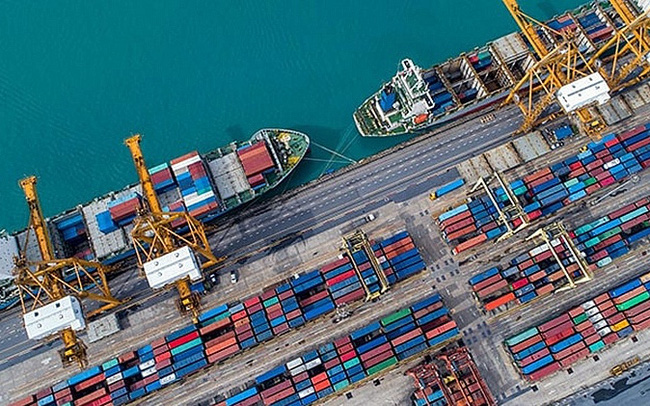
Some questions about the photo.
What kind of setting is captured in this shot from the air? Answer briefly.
port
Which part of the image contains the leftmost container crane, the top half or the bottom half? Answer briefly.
bottom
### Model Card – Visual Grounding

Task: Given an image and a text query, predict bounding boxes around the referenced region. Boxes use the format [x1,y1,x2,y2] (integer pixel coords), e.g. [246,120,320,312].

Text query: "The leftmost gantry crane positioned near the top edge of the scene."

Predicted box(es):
[501,0,613,139]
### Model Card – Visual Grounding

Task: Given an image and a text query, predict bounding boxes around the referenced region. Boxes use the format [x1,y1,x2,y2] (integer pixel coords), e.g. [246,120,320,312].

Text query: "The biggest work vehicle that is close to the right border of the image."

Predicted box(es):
[606,355,646,377]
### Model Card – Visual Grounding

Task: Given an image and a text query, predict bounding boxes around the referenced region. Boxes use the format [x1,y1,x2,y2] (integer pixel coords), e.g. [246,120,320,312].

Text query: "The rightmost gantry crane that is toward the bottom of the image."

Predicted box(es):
[519,220,590,294]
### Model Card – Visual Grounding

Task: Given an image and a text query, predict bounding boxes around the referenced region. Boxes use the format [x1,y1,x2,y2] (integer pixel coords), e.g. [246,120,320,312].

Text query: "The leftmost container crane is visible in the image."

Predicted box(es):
[10,178,131,363]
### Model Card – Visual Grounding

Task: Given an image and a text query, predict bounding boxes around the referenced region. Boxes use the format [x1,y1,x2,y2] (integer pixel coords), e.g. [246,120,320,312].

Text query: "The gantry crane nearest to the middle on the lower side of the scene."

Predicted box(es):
[338,227,392,302]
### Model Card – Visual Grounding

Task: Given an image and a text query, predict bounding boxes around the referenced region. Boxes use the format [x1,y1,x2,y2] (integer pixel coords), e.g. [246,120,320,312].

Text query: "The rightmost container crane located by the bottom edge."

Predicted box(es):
[430,342,496,406]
